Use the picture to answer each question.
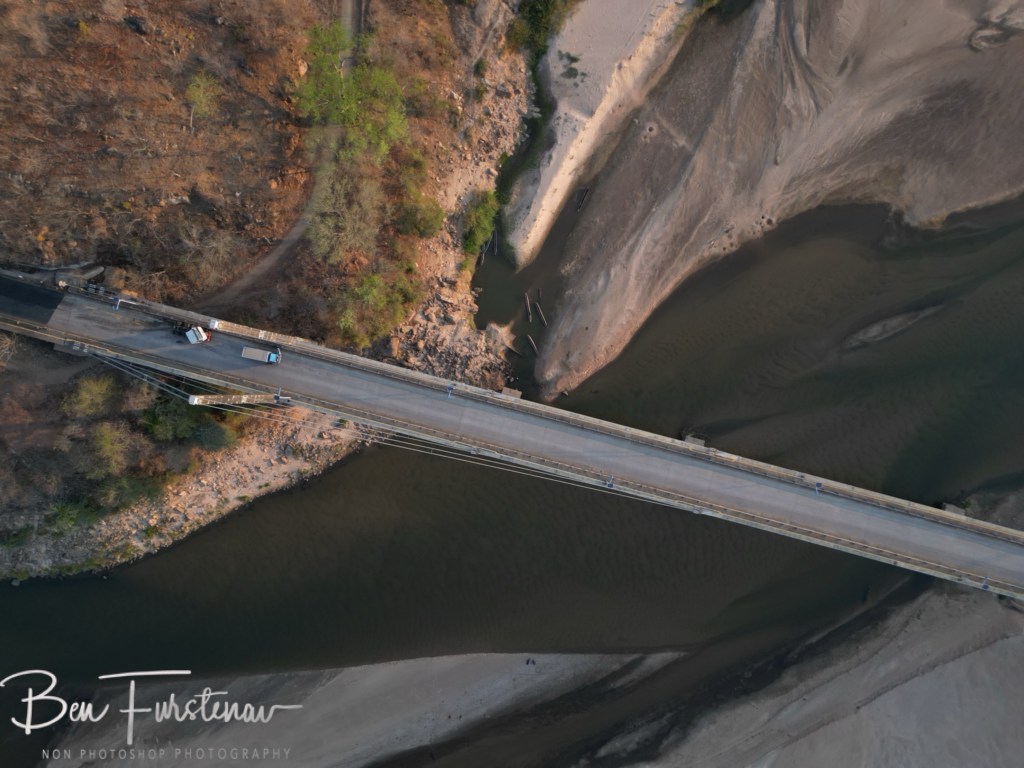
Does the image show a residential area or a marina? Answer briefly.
marina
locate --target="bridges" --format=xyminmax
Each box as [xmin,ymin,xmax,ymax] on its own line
[49,281,1024,599]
